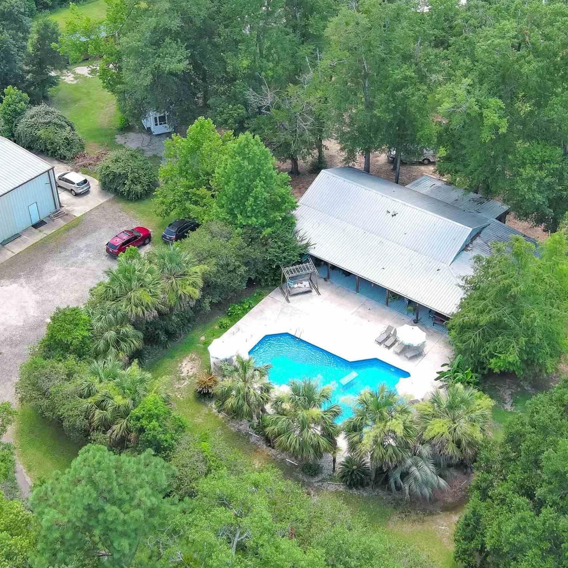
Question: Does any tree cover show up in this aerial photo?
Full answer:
Yes, there is tree cover in the image.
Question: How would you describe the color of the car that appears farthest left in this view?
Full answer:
In this view, the car that appears farthest left is white.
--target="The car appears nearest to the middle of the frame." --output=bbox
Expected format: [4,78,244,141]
[153,218,204,253]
